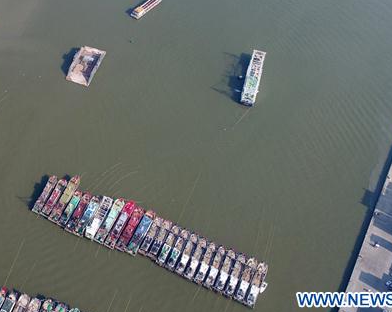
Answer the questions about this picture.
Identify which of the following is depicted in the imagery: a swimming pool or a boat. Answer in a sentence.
Visible in the photo is a boat.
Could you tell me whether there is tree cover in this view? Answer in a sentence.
No, there's no tree cover in this view.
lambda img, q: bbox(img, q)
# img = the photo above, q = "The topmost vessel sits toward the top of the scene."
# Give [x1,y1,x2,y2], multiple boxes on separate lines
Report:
[131,0,161,20]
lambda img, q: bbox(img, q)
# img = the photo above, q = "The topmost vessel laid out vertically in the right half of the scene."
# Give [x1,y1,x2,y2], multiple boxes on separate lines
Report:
[243,47,266,112]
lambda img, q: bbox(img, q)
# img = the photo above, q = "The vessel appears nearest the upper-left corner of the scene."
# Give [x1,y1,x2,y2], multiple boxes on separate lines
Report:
[65,47,105,91]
